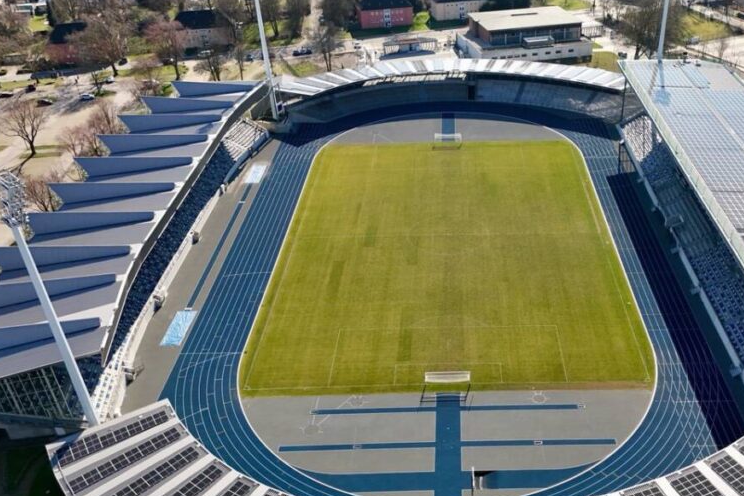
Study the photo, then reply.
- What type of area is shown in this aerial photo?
sports ground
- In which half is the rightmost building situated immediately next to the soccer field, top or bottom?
top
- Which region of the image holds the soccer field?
center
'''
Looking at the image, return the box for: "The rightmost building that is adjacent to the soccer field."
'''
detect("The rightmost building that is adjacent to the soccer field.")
[458,7,621,63]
